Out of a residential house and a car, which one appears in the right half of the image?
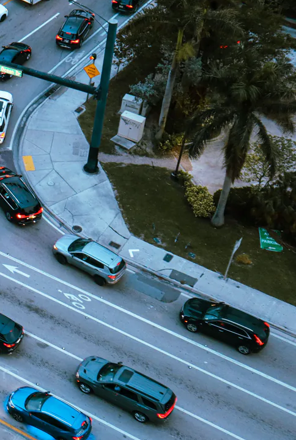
car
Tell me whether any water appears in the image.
No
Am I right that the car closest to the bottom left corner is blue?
Yes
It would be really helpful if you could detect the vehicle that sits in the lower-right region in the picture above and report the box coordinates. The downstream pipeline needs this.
[180,297,279,358]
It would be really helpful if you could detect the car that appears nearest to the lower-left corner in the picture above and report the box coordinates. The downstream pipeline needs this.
[7,386,98,440]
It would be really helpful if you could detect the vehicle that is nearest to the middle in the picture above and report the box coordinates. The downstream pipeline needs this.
[54,235,132,289]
